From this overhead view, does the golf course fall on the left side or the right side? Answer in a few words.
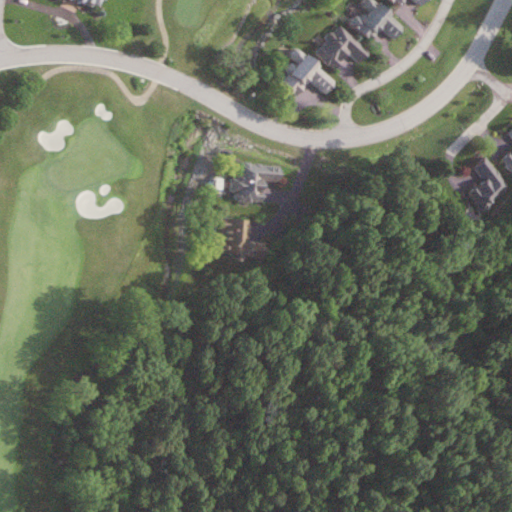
left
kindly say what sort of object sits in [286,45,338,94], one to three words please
house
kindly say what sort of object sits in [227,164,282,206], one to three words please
house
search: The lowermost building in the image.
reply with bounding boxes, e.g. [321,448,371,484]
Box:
[224,216,266,257]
